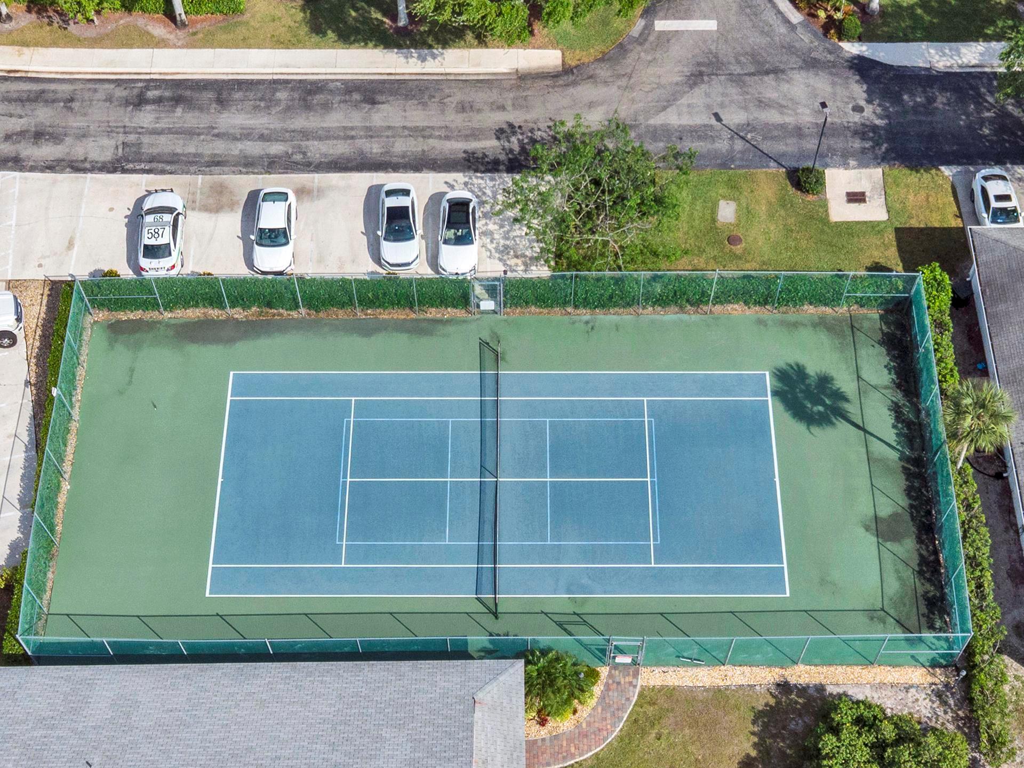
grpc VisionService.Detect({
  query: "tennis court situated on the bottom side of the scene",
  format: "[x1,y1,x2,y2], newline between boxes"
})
[46,314,951,667]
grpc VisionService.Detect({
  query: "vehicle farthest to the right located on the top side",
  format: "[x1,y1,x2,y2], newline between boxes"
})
[975,169,1024,226]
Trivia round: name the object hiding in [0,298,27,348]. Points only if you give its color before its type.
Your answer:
white car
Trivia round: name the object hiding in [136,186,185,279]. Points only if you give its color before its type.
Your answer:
white car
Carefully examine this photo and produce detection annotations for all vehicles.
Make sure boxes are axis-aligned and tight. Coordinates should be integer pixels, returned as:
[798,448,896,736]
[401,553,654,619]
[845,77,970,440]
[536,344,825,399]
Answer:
[249,187,299,275]
[136,186,185,279]
[435,189,482,278]
[975,169,1024,226]
[0,298,27,348]
[375,181,423,272]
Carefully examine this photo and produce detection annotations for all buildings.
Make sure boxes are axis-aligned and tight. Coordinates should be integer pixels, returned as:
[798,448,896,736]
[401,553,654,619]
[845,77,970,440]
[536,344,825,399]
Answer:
[0,657,524,768]
[962,226,1024,571]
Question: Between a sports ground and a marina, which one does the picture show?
sports ground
